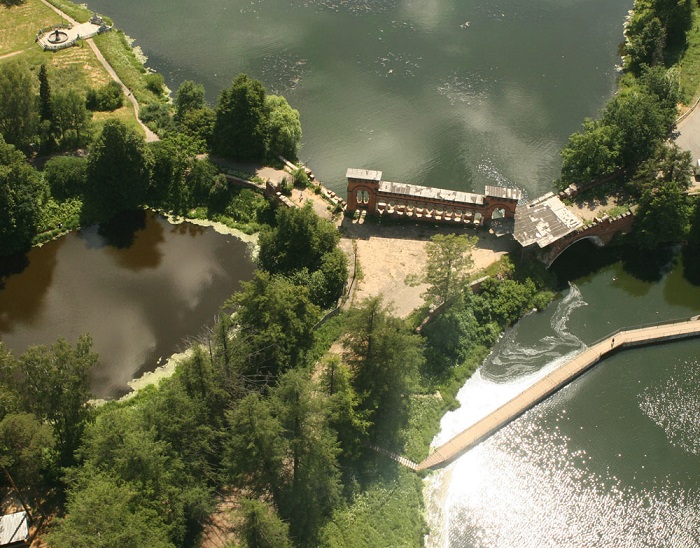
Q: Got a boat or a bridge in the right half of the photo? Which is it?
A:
bridge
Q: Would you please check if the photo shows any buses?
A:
No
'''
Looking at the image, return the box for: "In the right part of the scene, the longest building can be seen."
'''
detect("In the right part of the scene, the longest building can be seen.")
[345,167,523,230]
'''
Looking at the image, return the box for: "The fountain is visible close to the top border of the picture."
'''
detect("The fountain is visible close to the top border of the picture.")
[46,26,68,44]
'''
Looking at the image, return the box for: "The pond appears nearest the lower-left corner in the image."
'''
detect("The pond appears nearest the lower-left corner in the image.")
[0,210,249,409]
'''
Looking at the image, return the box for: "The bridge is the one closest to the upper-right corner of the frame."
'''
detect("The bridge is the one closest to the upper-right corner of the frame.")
[504,176,644,268]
